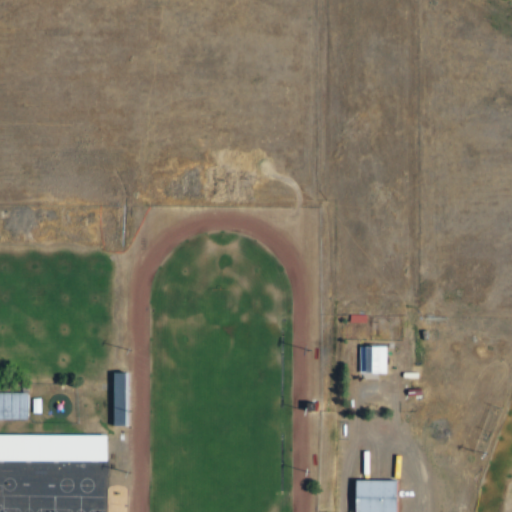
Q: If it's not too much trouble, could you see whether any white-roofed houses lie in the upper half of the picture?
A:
No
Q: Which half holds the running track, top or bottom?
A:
bottom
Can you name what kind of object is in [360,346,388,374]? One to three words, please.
house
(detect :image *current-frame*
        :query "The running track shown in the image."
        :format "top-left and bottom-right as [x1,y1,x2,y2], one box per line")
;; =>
[130,210,314,512]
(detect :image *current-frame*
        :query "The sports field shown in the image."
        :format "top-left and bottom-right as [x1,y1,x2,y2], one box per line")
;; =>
[150,230,294,512]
